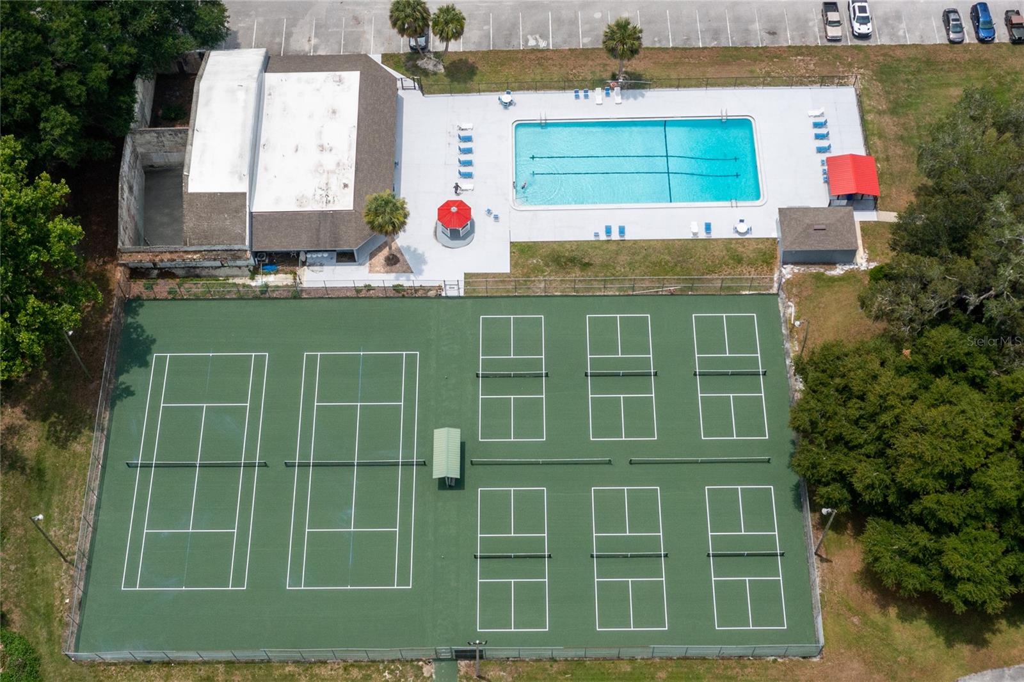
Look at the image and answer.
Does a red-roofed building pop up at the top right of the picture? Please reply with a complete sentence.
Yes, a red-roofed building can be seen at the top right of the picture.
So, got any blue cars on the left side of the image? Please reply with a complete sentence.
No, there is no blue car on the left side of the image.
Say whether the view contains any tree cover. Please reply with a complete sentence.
Yes, some tree cover is visible.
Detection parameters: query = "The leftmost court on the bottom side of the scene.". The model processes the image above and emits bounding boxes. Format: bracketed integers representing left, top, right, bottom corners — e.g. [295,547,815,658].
[120,351,270,591]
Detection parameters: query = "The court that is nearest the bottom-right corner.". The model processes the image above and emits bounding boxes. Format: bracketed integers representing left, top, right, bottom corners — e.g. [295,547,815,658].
[704,485,788,630]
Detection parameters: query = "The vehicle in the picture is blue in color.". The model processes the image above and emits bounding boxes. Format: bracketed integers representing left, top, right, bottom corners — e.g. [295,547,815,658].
[971,2,996,41]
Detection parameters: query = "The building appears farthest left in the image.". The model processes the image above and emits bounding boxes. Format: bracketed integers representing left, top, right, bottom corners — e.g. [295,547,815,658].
[183,48,269,253]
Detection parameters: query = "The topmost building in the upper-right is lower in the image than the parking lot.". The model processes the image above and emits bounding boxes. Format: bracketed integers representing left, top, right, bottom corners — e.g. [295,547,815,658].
[825,151,880,219]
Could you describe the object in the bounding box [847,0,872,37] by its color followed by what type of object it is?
white truck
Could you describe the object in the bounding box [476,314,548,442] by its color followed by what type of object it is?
green sports court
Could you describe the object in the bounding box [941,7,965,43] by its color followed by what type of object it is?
gray car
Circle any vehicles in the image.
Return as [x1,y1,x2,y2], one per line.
[847,0,872,37]
[820,2,842,40]
[1002,5,1024,44]
[971,2,996,41]
[411,14,429,50]
[941,7,965,43]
